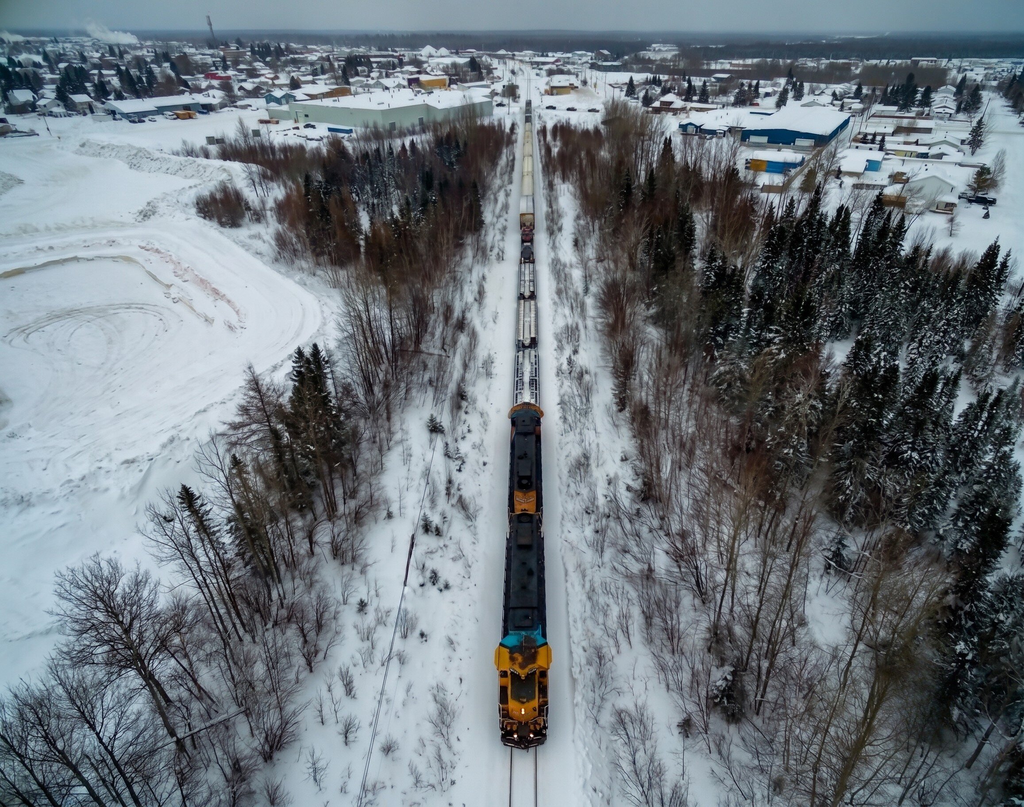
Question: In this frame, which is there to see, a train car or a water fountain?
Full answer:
I can see a train car in this picture.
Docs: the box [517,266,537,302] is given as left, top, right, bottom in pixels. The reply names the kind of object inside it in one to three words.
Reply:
rail car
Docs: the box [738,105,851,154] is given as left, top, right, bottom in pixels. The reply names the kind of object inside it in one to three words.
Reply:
building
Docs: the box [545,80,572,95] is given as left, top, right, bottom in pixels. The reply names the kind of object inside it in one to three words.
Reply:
building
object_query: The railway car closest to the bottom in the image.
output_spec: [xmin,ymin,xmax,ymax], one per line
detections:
[497,519,553,761]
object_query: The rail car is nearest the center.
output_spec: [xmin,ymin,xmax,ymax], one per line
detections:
[512,345,540,413]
